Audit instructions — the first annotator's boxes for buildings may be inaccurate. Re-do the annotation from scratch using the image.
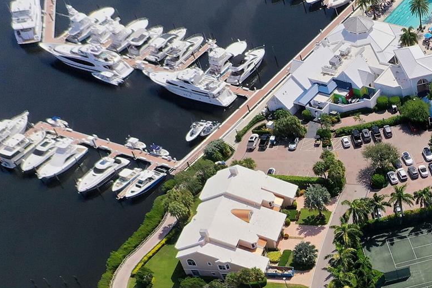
[176,164,301,285]
[278,11,413,114]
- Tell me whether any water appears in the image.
Yes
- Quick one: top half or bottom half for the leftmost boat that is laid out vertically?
top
